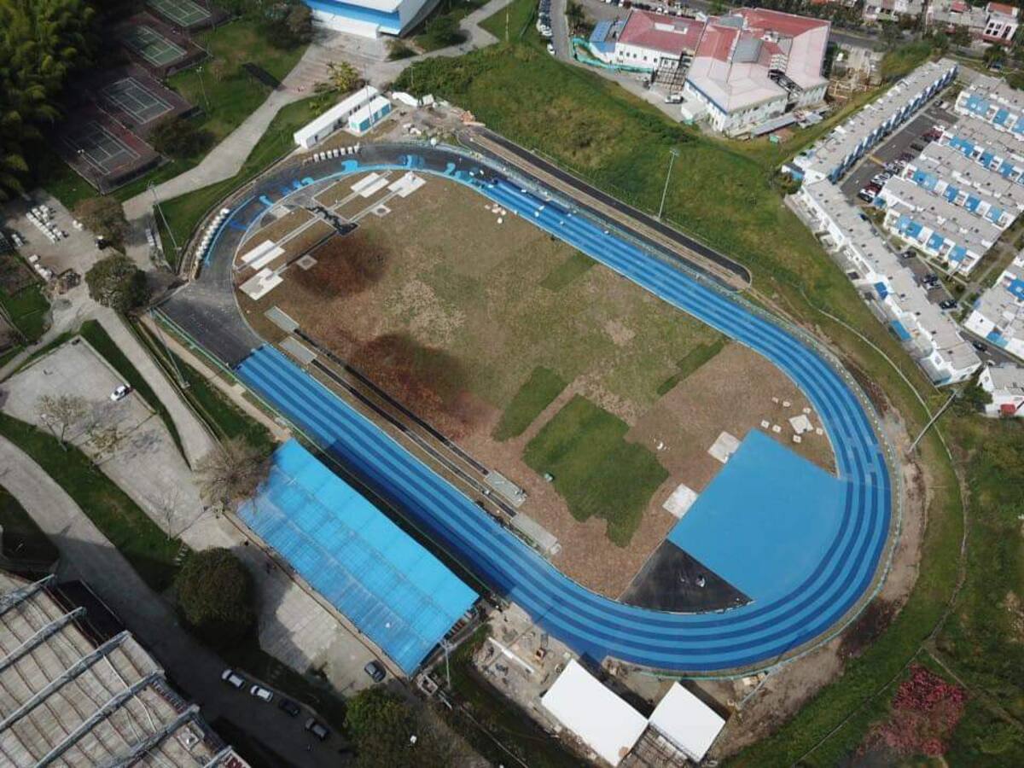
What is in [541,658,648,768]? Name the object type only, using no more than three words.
tent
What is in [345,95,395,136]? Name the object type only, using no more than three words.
building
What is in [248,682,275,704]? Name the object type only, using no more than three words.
car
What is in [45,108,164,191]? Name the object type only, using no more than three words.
tennis court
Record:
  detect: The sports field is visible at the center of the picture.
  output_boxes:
[168,132,904,702]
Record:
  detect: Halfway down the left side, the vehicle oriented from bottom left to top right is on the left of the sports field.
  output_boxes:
[111,385,131,401]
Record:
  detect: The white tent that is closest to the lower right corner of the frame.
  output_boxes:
[646,682,724,763]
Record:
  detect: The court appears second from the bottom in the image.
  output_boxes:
[86,62,193,139]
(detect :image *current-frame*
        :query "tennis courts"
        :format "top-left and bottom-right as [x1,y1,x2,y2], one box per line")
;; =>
[99,13,203,81]
[45,108,164,191]
[121,0,228,38]
[86,62,193,139]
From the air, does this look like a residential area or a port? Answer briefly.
residential area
